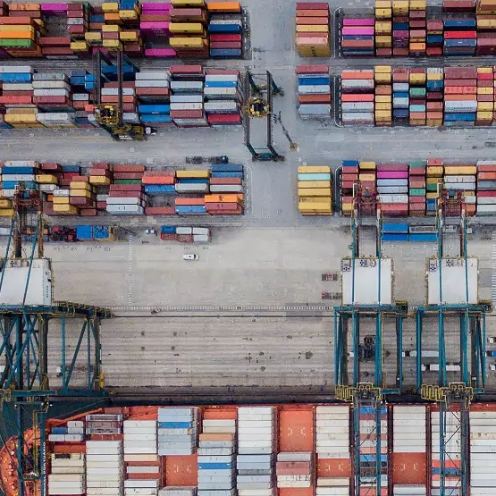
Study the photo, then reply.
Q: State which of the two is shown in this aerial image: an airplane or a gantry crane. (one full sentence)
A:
I can see a gantry crane in this picture.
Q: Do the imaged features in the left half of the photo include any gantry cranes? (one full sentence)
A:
Yes, you'll find a gantry crane in the left half of the photo.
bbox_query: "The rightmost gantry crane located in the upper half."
[245,70,285,159]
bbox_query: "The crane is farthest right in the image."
[414,186,494,496]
